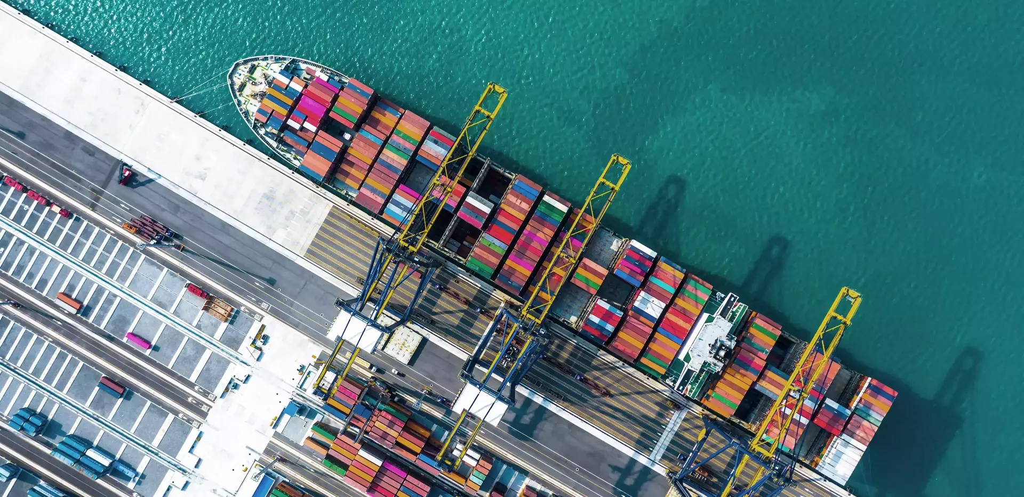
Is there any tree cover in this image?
No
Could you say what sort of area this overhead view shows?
port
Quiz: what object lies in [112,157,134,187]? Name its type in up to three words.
work vehicle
